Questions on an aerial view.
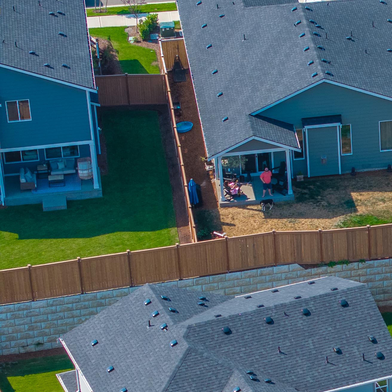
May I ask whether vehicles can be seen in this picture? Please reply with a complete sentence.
No, the photo shows no vehicle.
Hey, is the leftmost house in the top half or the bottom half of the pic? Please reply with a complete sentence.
Seen from above, the leftmost house lies in the top half of the view.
